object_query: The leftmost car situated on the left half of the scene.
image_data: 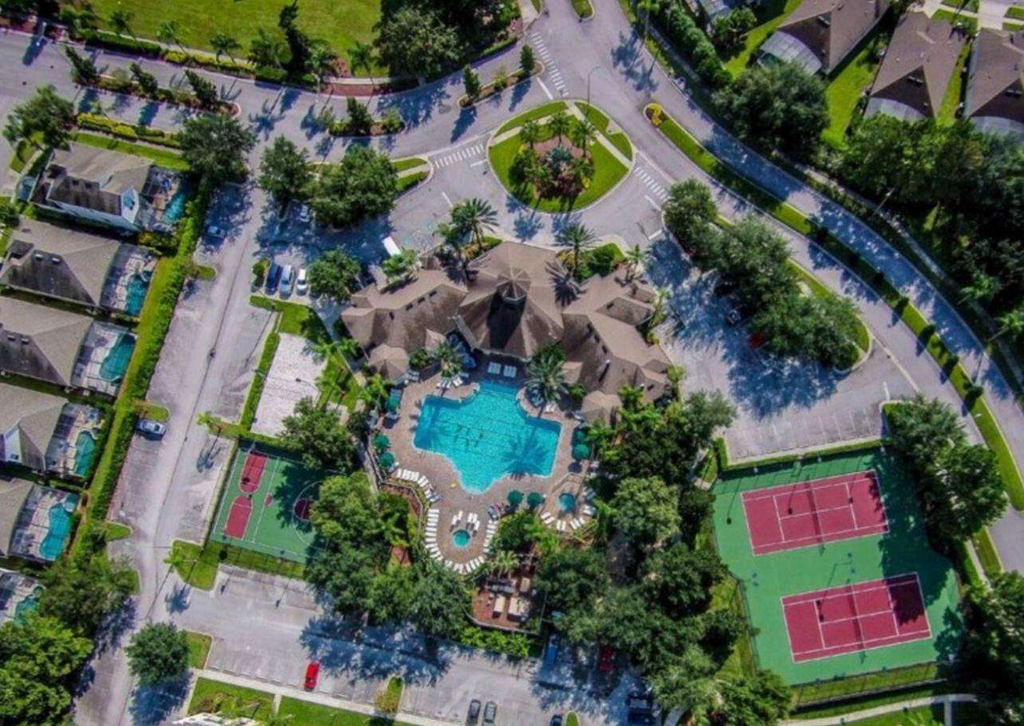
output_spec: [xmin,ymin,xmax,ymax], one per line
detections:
[135,420,164,436]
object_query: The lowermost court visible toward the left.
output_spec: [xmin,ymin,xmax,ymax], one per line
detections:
[210,448,345,572]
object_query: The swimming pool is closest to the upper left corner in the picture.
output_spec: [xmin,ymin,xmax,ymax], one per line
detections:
[163,180,194,223]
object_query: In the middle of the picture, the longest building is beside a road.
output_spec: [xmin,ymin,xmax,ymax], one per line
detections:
[341,241,673,403]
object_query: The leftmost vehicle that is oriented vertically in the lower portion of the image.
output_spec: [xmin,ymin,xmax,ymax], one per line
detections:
[303,661,319,691]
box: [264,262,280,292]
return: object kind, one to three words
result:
car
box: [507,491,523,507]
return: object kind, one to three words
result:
umbrella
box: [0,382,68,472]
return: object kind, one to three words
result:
house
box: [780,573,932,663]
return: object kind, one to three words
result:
tennis court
